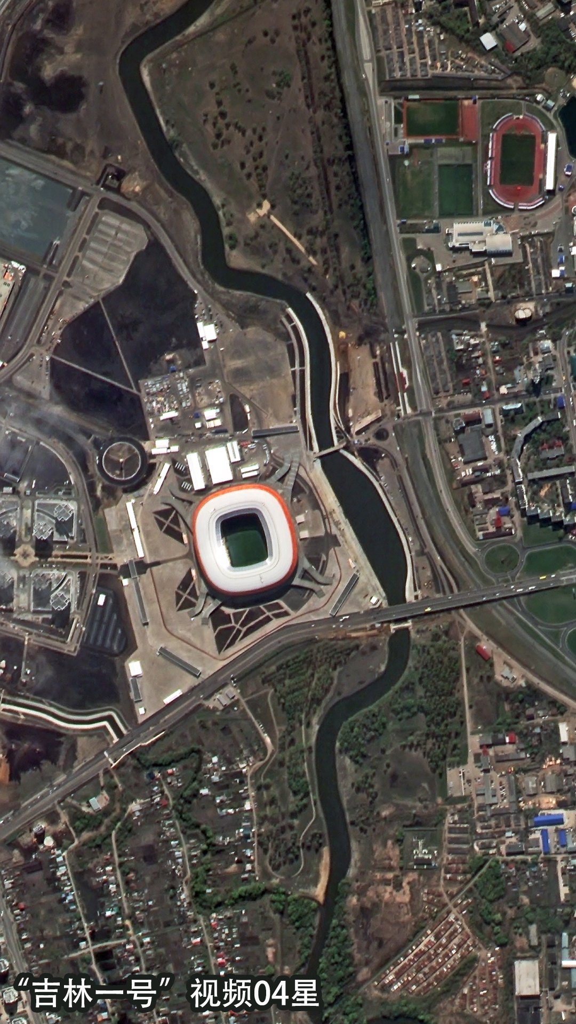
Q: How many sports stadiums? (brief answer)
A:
2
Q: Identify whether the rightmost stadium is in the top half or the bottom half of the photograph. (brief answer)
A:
top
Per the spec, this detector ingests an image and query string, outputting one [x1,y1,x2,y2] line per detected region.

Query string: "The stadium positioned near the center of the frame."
[186,478,302,601]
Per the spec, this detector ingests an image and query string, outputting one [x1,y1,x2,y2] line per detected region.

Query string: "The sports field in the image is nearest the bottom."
[221,512,264,566]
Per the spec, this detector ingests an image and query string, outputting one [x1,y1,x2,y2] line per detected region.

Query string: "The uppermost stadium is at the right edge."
[486,108,558,211]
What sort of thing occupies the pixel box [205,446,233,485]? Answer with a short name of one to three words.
building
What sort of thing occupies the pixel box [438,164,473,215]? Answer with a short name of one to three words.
soccer field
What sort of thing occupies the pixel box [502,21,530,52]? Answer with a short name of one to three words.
building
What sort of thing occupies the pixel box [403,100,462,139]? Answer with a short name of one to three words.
soccer field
